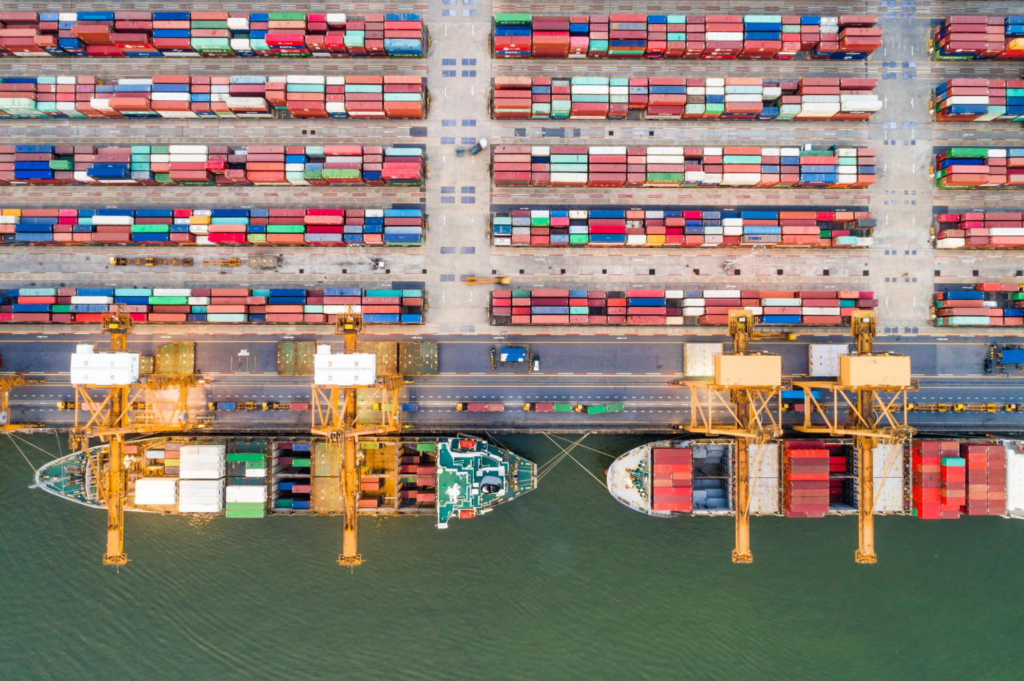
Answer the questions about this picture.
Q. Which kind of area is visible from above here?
port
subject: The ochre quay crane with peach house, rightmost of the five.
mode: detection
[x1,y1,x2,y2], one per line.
[775,312,915,565]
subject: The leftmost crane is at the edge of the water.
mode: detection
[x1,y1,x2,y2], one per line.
[0,373,43,430]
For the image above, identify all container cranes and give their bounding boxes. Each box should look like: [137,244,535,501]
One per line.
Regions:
[775,312,915,565]
[68,302,214,574]
[311,303,414,575]
[0,373,43,430]
[669,312,785,565]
